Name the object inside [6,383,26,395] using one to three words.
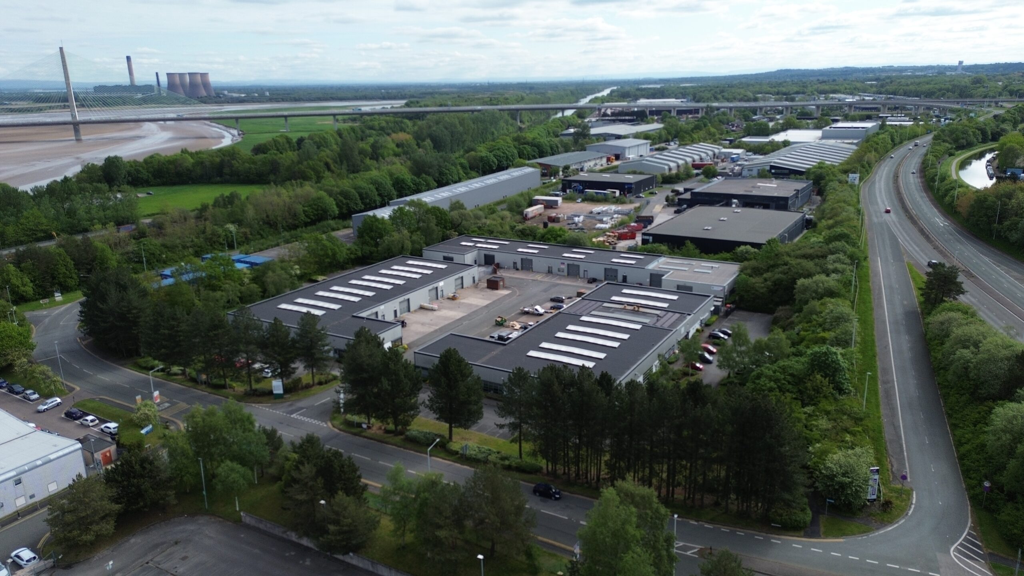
vehicle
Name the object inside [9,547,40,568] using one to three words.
car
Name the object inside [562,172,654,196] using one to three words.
building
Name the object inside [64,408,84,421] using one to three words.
vehicle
